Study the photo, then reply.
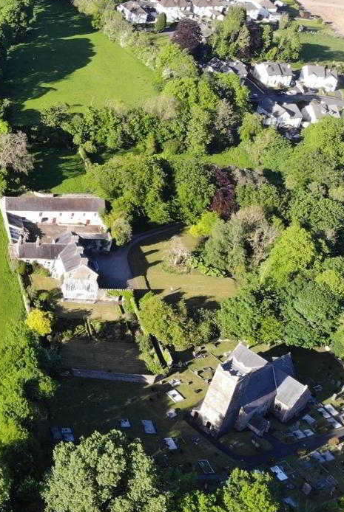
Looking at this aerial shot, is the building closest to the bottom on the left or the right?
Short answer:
right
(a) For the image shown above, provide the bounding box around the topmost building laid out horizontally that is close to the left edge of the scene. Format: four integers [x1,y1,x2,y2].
[2,196,113,225]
